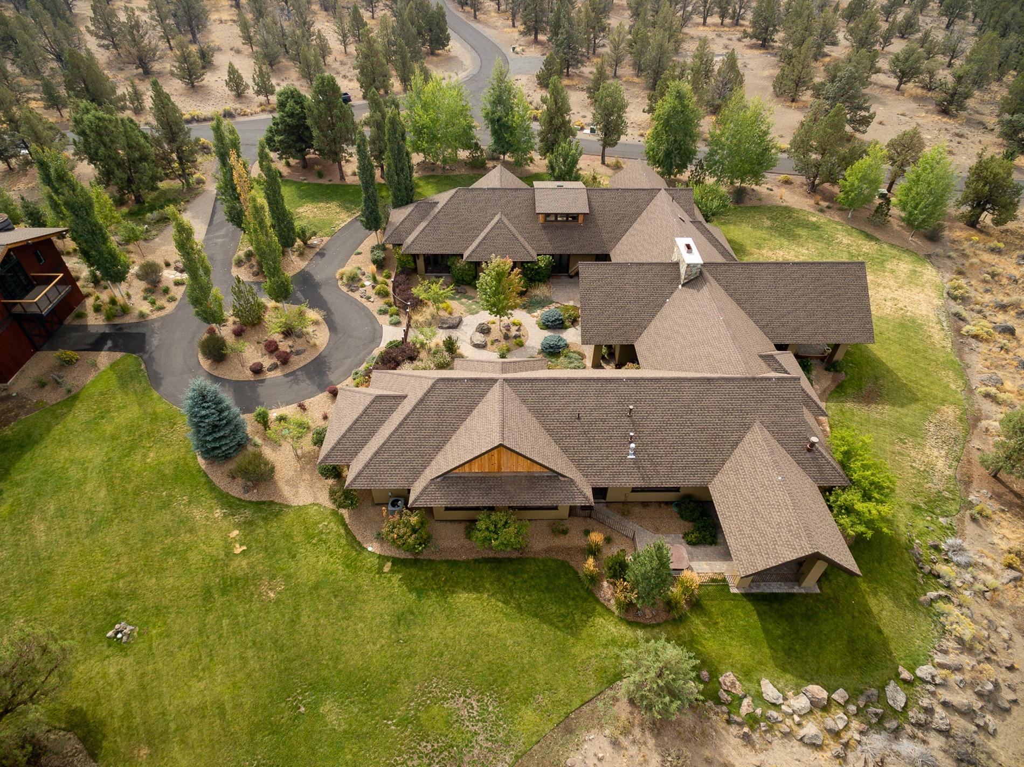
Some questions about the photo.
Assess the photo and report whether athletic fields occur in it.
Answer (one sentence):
No, there appears to be no athletic field in this shot.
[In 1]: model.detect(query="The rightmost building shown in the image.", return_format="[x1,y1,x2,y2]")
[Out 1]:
[315,159,875,588]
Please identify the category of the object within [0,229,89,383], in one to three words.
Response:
barn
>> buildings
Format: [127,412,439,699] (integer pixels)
[315,159,875,588]
[0,229,89,383]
